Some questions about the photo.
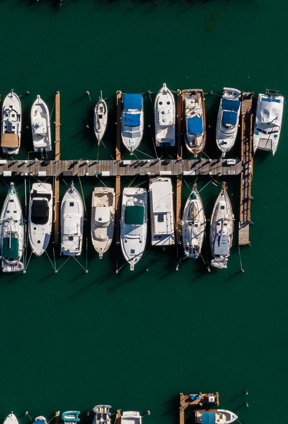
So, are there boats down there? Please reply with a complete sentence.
Yes, the picture does show a boat.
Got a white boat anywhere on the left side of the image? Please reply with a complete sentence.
Yes, looking on the left side of the image, one can make out a white boat.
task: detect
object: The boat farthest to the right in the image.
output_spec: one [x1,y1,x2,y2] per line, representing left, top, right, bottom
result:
[252,88,287,157]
